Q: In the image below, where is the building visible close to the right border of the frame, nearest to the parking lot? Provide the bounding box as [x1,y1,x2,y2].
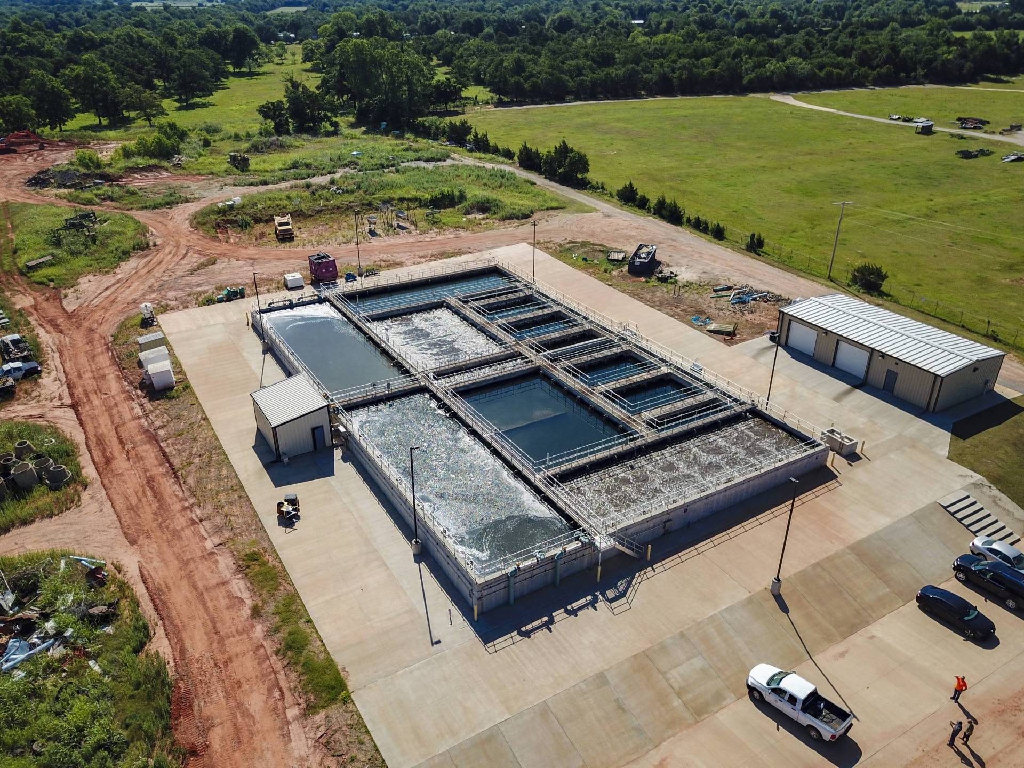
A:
[772,290,1005,415]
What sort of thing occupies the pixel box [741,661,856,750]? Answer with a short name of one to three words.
truck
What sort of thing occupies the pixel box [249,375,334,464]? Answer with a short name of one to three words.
shed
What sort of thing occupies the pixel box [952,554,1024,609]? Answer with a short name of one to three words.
car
